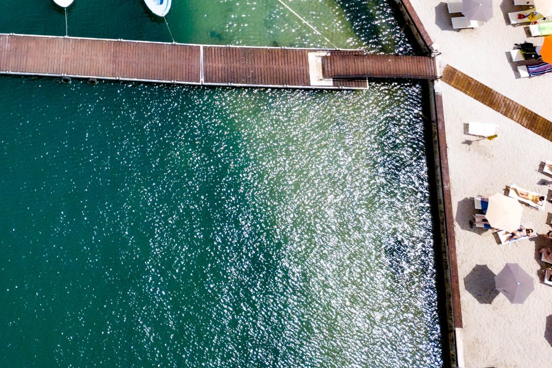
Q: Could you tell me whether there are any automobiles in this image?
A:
No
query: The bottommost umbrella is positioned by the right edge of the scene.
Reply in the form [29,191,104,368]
[494,265,534,303]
